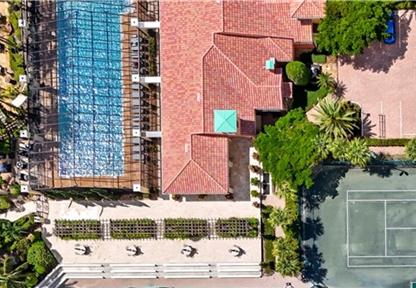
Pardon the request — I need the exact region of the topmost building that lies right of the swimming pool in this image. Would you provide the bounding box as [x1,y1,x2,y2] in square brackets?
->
[159,0,327,196]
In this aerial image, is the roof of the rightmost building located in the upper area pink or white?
pink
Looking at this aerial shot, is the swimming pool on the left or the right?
left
